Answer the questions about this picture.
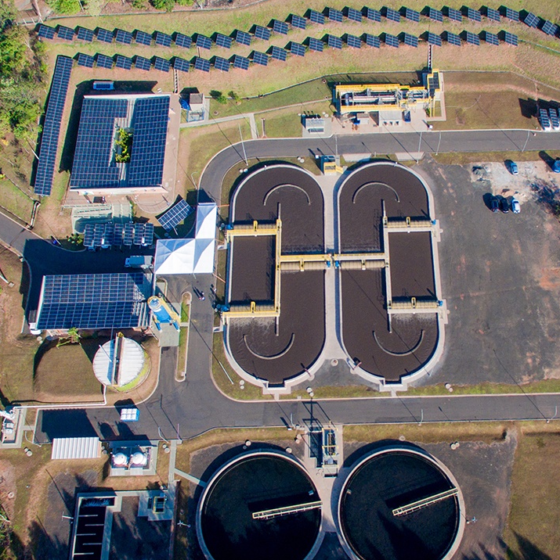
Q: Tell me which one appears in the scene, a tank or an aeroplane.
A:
tank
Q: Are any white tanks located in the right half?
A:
No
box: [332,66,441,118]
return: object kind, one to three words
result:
building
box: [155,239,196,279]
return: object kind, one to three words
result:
tent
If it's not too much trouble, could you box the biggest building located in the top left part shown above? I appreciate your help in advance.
[70,93,173,197]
